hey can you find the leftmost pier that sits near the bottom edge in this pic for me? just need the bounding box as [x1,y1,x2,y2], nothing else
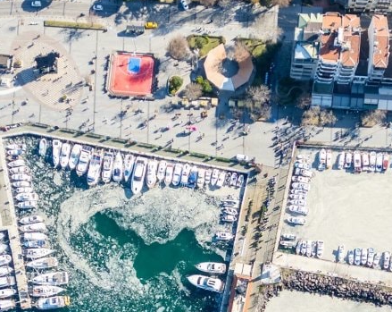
[6,224,30,310]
